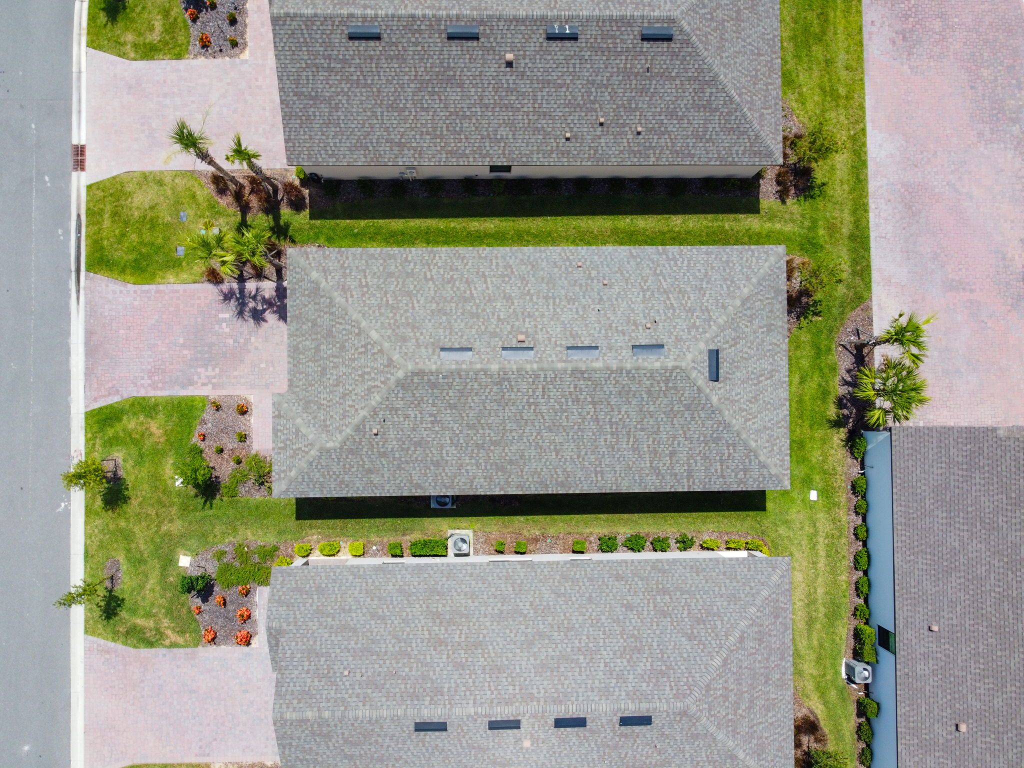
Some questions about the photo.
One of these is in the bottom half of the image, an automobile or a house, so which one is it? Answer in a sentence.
The one visible in the bottom half of the image is a house.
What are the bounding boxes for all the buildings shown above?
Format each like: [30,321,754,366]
[272,247,792,497]
[265,550,798,768]
[268,0,784,181]
[862,424,1024,768]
